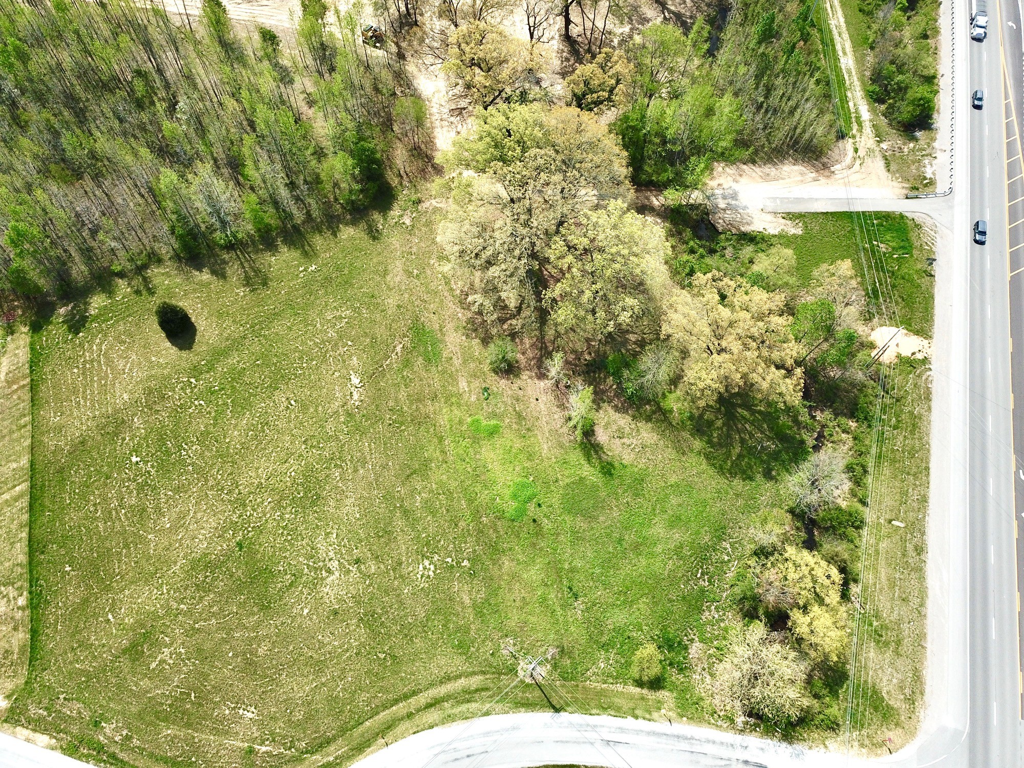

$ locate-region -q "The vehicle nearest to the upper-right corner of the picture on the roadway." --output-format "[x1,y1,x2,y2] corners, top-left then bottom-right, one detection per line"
[972,0,992,40]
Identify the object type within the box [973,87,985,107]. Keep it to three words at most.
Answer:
vehicle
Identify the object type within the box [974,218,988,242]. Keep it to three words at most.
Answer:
car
